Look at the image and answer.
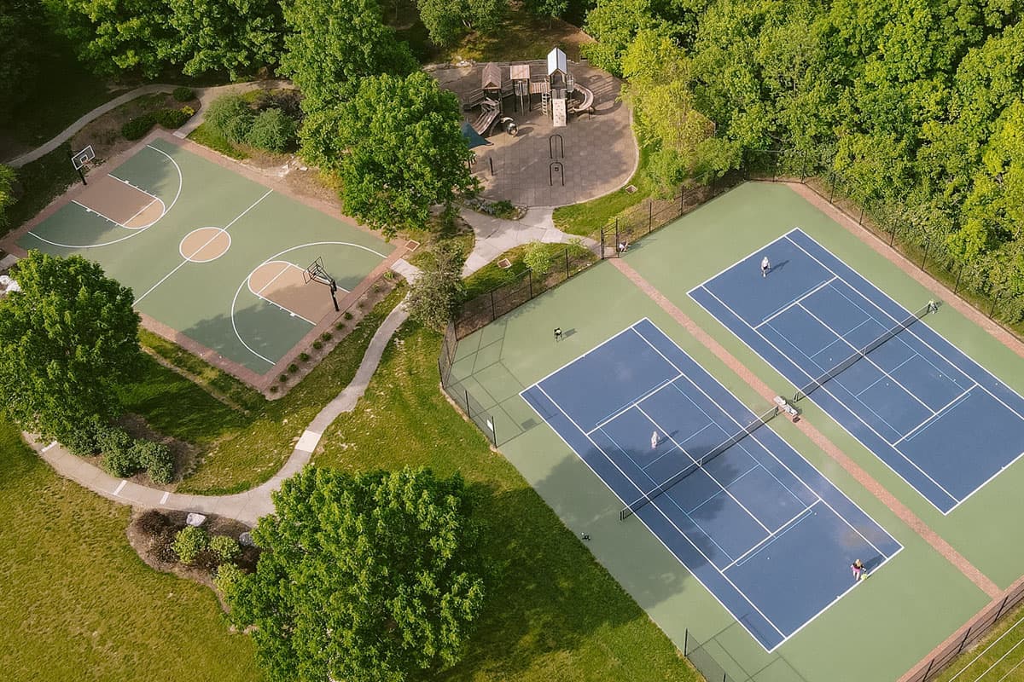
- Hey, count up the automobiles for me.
none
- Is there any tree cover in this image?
Yes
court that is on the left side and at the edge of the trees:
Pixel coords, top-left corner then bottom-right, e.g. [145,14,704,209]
[0,124,410,392]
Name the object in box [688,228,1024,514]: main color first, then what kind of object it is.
blue tennis court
